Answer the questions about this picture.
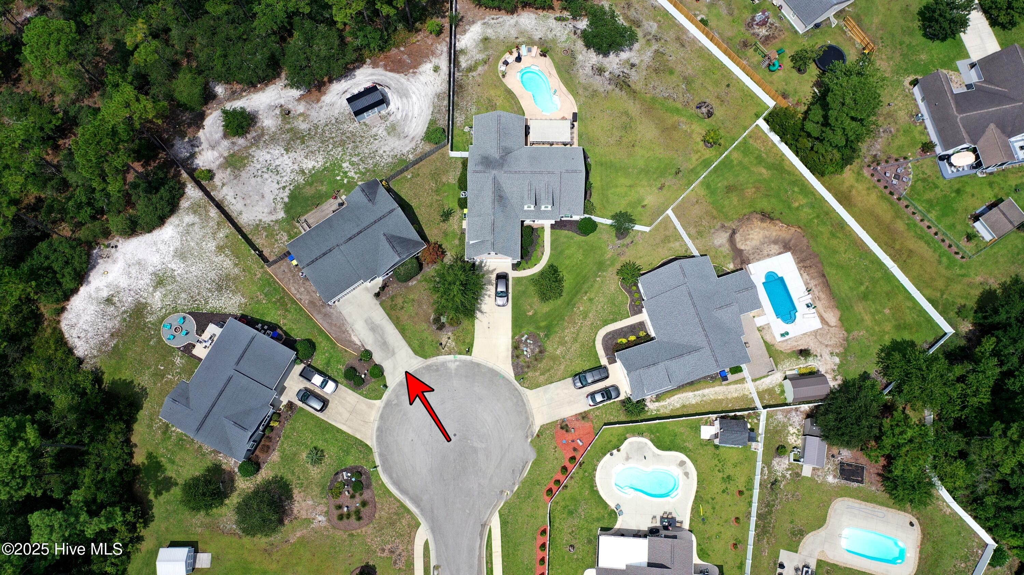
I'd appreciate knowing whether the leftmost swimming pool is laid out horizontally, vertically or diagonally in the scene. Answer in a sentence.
The leftmost swimming pool has been laid out diagonally relative to the frame.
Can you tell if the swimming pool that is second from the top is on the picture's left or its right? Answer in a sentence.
The swimming pool that is second from the top sits on the right side.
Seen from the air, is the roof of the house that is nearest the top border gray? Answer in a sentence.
Yes, the roof of the house that is nearest the top border is gray.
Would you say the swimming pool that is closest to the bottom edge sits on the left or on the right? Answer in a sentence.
The swimming pool that is closest to the bottom edge appears in the right half of the scene.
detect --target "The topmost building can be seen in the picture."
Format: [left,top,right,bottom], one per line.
[777,0,862,34]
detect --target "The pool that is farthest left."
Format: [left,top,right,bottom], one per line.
[517,64,560,114]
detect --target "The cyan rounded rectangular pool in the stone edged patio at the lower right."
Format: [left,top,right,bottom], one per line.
[840,527,908,566]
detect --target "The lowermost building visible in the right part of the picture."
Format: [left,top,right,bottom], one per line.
[592,534,693,575]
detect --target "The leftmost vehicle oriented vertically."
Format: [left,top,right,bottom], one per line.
[494,272,510,306]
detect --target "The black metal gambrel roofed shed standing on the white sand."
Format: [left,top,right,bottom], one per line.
[346,84,385,121]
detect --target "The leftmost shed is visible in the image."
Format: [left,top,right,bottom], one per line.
[156,547,194,575]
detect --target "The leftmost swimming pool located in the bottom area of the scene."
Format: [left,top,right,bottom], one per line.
[612,464,682,501]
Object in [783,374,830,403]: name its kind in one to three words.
shed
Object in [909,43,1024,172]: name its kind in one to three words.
house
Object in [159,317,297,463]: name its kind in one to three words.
house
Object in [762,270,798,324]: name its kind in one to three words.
swimming pool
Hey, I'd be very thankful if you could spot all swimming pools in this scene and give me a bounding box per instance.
[762,270,798,324]
[612,464,682,501]
[840,527,908,566]
[517,64,560,114]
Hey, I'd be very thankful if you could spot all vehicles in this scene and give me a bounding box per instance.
[296,363,340,395]
[573,364,610,386]
[587,385,621,407]
[294,386,331,414]
[494,272,510,306]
